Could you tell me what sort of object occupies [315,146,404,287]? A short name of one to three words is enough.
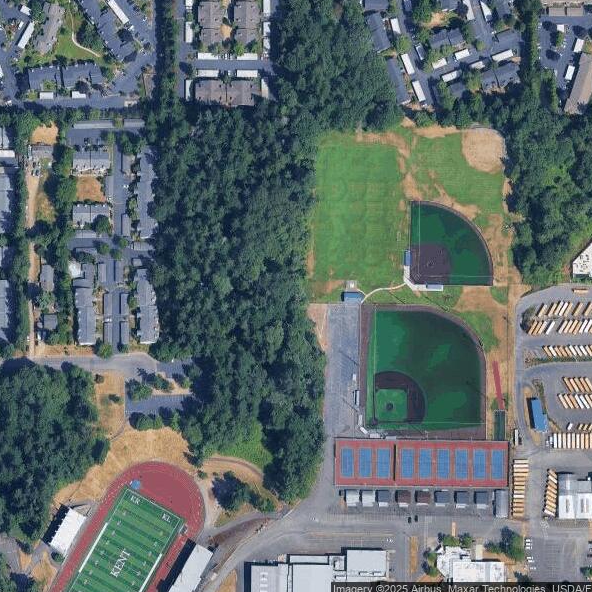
sports field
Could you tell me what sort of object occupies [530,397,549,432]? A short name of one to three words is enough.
shed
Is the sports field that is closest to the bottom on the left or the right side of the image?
left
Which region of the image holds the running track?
bottom left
